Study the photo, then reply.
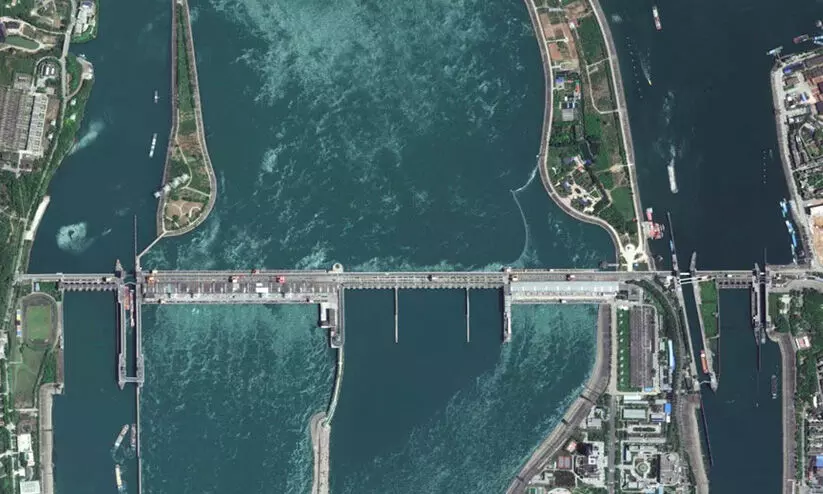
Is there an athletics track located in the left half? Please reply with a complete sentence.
Yes, an athletics track appears in the left half.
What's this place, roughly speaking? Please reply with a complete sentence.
This looks like a port.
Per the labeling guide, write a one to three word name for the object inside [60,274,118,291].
dam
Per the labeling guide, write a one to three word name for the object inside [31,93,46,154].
building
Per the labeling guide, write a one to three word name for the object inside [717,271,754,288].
dam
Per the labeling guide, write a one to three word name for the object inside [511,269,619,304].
building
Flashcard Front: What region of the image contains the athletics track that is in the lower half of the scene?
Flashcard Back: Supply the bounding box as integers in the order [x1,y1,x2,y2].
[21,291,58,356]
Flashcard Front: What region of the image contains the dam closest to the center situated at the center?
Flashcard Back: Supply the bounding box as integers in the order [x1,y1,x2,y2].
[341,271,506,289]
